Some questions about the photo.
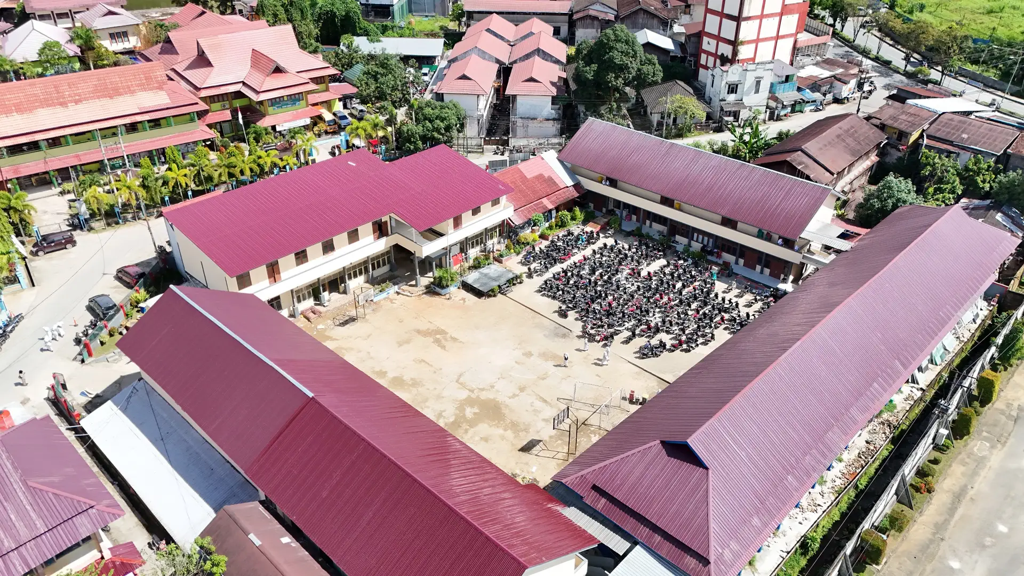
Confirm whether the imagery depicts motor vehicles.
Yes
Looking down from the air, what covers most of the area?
buildings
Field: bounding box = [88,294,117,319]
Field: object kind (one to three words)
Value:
car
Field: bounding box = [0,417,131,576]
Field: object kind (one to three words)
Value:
house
